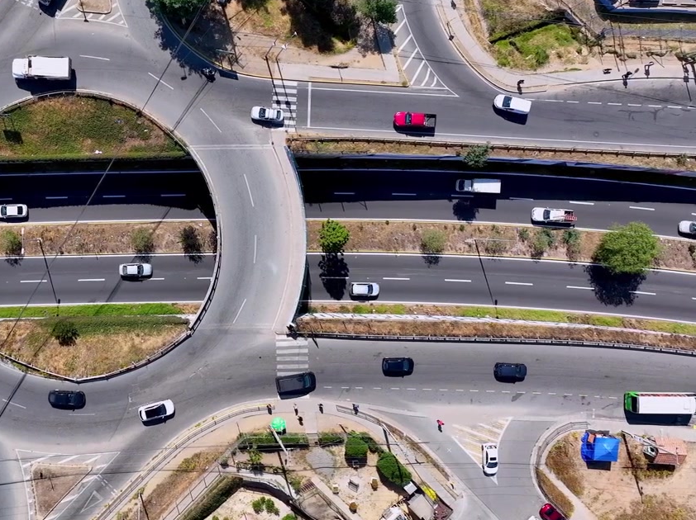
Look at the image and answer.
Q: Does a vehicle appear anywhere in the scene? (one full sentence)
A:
Yes, the frame does contain a vehicle.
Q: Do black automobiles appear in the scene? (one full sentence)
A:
Yes, the photo shows a black automobile.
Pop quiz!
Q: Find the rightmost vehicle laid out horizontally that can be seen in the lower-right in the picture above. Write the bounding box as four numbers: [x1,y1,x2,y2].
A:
[616,391,696,416]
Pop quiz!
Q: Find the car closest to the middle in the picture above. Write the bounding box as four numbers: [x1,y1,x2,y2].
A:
[348,283,378,298]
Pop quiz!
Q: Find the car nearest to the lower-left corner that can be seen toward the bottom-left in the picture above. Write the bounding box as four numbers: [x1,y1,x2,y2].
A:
[50,390,86,408]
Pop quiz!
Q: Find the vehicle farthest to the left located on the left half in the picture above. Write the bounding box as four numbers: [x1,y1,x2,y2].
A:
[0,204,29,220]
